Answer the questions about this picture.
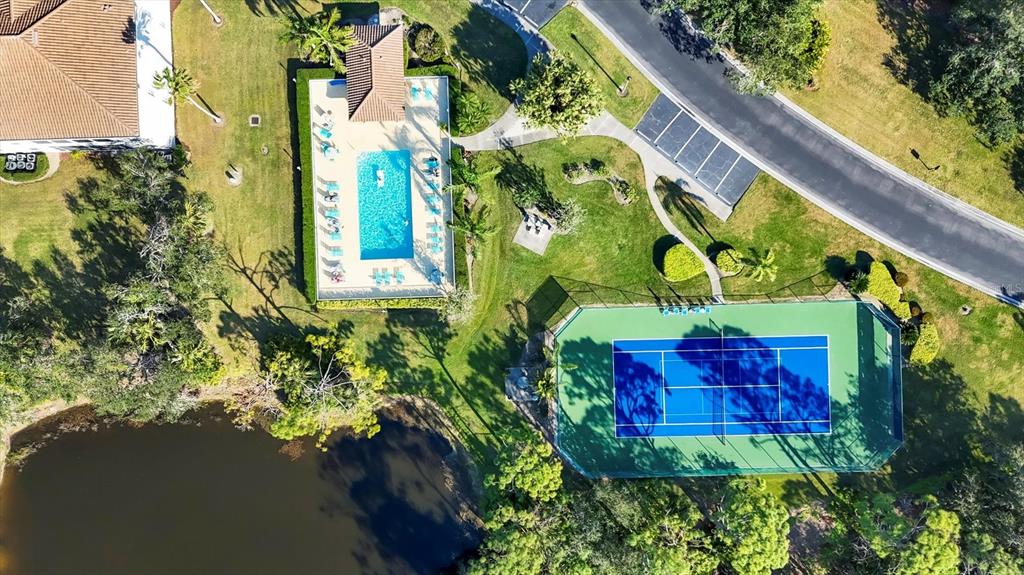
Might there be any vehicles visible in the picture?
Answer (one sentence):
No, I find no vehicle anywhere in the image.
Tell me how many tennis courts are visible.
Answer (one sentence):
The picture shows just 1 tennis court.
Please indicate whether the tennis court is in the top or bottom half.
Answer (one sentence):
The tennis court is in the bottom half of the image.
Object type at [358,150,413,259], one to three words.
swimming pool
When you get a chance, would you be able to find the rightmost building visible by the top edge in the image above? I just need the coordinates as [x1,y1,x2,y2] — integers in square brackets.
[346,23,406,125]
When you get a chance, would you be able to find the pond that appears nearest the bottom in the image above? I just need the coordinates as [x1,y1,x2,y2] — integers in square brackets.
[0,397,489,575]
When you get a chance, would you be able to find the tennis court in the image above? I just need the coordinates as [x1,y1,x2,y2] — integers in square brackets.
[558,303,888,469]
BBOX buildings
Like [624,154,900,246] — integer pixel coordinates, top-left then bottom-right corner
[0,0,173,151]
[346,23,406,125]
